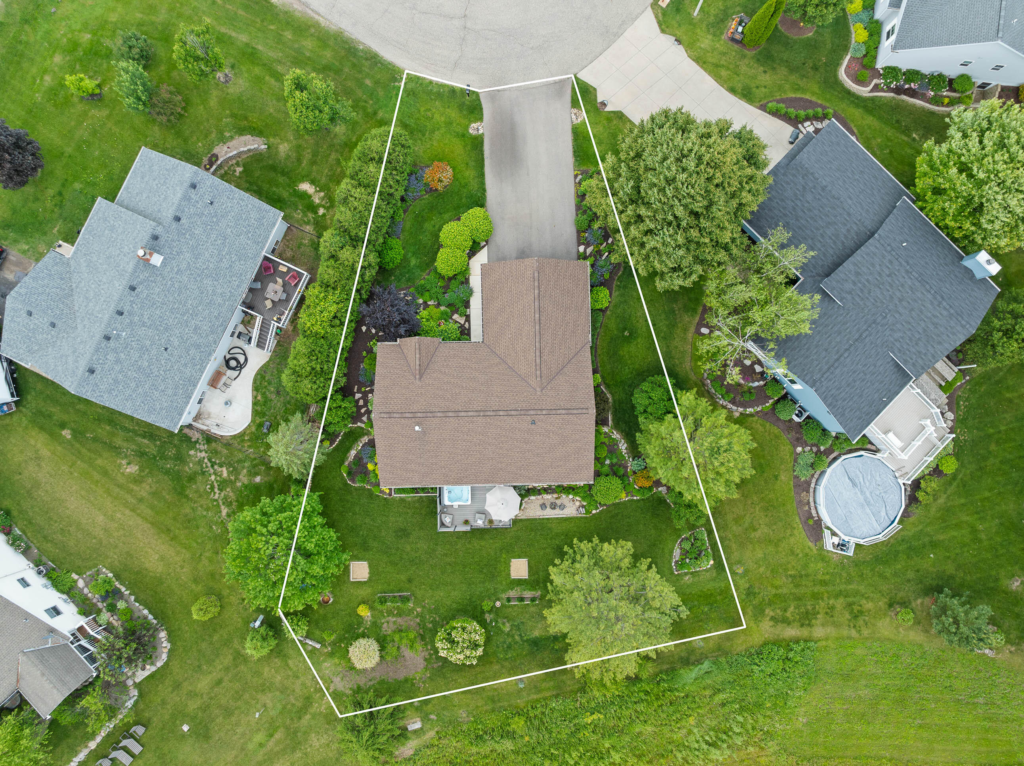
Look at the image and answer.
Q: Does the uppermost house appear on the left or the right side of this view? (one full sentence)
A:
You can find the uppermost house on the right side of the picture.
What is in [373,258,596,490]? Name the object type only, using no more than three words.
house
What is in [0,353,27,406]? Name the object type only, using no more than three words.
camper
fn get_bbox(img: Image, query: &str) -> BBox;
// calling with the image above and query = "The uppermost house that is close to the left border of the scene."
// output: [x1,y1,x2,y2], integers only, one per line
[0,145,291,435]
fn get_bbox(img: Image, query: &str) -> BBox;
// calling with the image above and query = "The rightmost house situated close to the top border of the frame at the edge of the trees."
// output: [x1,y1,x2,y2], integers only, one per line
[871,0,1024,83]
